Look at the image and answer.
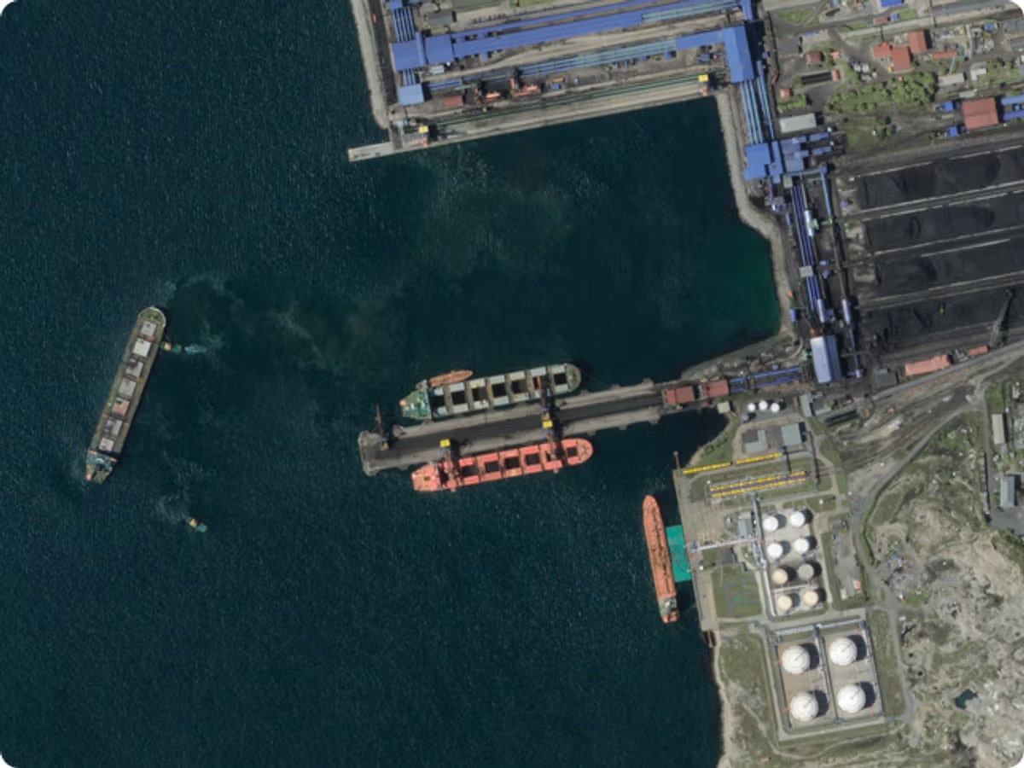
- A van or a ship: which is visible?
ship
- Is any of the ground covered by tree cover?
No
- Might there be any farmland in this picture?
No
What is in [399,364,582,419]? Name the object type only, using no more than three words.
ship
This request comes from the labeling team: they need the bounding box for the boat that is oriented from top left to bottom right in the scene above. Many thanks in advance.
[186,518,208,533]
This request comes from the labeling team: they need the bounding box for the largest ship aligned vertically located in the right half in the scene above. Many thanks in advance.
[645,495,679,624]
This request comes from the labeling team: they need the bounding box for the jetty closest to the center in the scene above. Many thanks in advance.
[358,376,725,475]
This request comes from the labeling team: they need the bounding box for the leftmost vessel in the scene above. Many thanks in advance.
[86,308,166,484]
